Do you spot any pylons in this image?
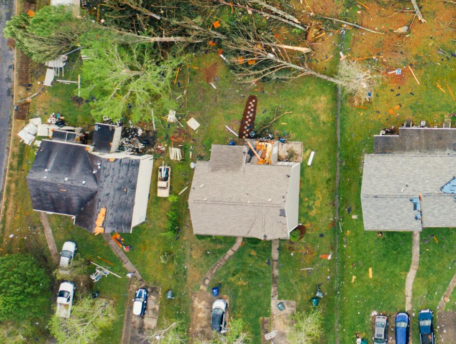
No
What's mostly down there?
grass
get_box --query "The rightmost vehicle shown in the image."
[416,307,435,344]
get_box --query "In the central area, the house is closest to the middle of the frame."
[185,140,301,242]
